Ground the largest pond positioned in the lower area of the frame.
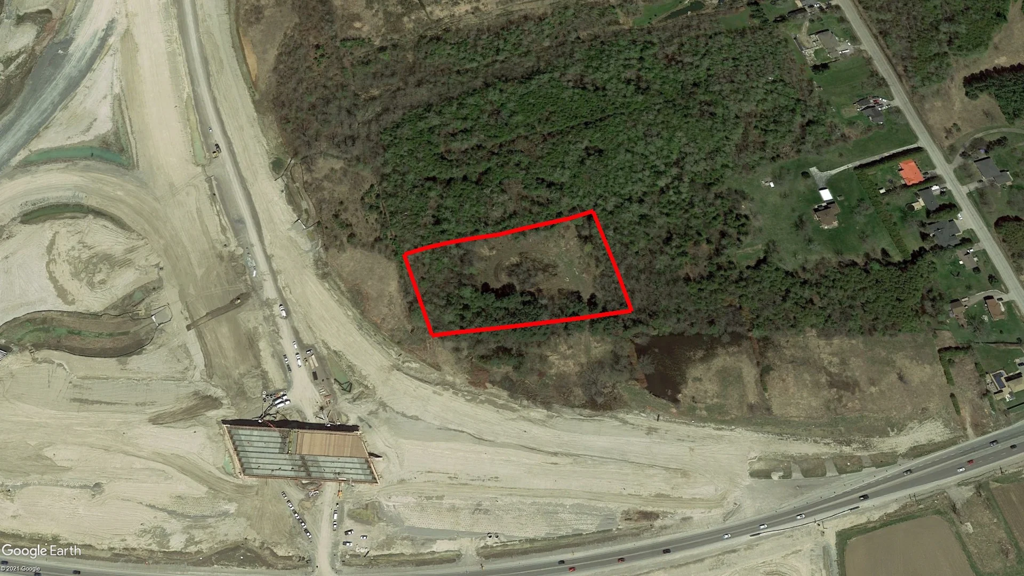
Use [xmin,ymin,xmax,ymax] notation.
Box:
[631,331,756,404]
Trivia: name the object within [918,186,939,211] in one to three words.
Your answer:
house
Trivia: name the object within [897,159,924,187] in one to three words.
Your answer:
house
